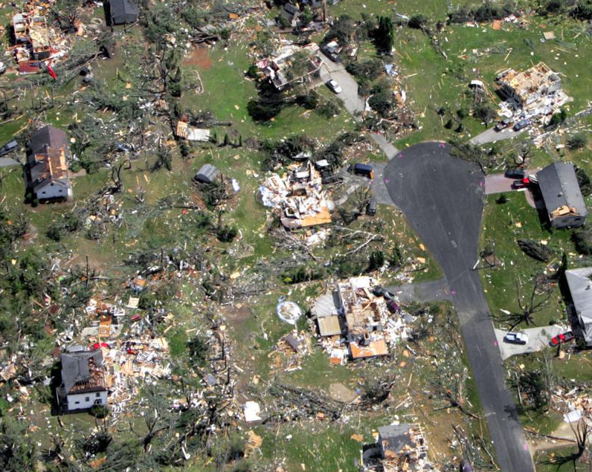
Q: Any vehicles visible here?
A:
Yes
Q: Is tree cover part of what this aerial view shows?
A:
Yes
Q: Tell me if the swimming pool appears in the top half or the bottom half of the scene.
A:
bottom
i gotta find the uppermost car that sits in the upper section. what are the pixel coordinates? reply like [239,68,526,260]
[325,43,342,60]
